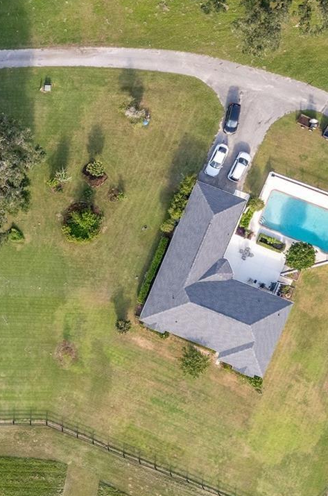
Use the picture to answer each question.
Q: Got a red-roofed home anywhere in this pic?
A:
No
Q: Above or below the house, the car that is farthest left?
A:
above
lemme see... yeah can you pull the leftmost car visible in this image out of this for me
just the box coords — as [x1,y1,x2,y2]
[204,142,228,177]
